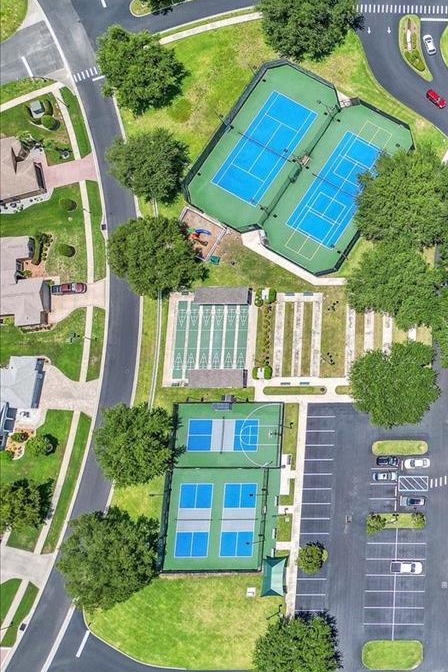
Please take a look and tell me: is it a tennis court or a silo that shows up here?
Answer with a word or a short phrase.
tennis court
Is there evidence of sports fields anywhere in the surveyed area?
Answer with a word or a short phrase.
Yes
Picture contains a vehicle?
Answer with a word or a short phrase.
Yes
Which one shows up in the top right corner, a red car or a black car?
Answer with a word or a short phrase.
red car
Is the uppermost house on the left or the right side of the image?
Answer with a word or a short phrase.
left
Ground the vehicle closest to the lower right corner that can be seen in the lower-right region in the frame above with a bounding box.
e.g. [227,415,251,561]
[390,561,422,573]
